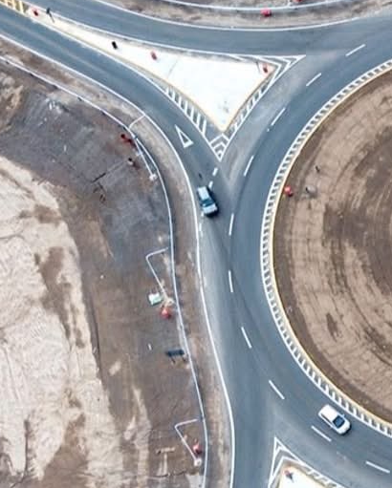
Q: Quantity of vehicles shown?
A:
2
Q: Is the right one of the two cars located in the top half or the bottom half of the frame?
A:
bottom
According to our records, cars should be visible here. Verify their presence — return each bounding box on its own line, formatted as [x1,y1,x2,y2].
[318,403,349,433]
[197,186,218,217]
